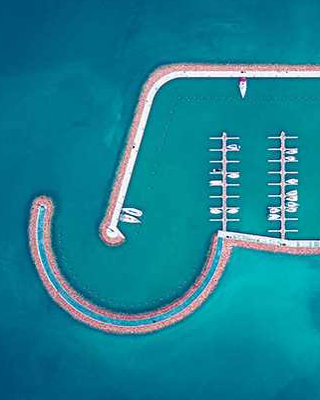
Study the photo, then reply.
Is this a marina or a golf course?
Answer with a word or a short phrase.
marina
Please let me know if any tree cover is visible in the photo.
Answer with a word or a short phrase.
No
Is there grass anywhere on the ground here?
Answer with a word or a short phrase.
No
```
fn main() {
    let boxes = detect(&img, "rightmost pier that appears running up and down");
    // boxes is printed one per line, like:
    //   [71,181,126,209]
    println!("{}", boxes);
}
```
[268,131,298,239]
